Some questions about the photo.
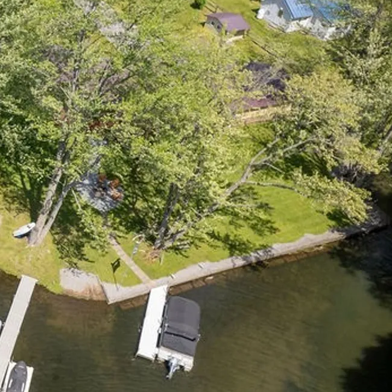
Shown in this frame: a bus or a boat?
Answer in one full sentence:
I can see a boat in this picture.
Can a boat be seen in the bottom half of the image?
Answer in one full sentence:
Yes, a boat appears in the bottom half of the image.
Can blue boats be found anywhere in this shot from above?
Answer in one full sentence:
No, this view has no blue boat in it.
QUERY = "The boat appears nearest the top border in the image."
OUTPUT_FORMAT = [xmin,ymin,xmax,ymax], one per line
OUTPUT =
[12,220,36,237]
